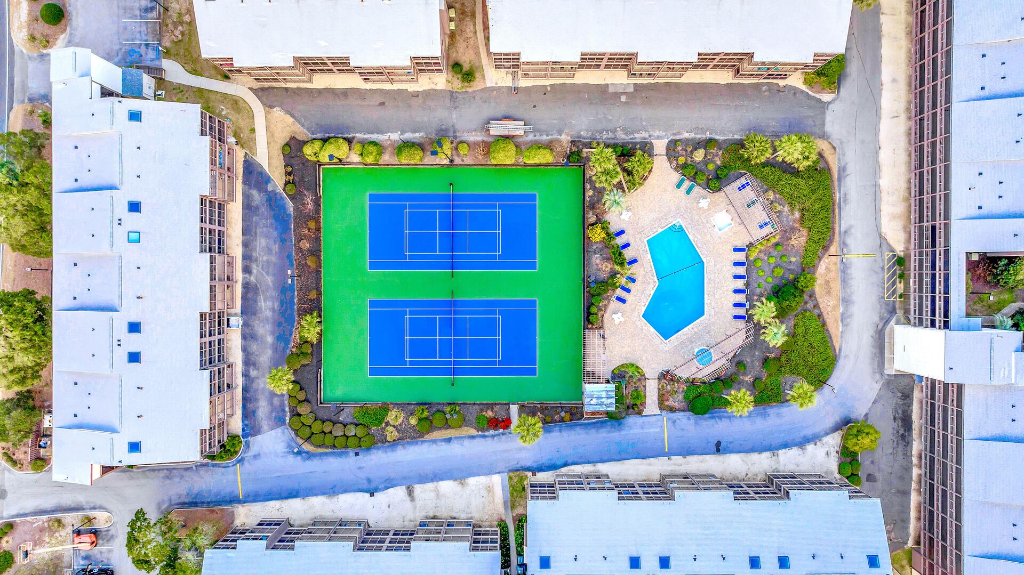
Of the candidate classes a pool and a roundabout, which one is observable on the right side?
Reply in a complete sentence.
The feature located on the right side is a pool.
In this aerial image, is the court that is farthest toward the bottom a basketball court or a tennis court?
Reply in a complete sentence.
The court that is farthest toward the bottom appears to be a tennis court.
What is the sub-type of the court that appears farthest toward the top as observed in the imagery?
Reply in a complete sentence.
The court that appears farthest toward the top in the image is a tennis court.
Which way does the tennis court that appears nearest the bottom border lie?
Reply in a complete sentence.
From this overhead view, the tennis court that appears nearest the bottom border appears to run horizontally.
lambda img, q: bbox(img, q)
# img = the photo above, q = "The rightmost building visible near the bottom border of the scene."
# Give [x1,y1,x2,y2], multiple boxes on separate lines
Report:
[924,378,1024,575]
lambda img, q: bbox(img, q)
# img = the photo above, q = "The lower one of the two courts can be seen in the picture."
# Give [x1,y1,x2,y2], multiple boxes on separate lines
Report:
[322,285,583,402]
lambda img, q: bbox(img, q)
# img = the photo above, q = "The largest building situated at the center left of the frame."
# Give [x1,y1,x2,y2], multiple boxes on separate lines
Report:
[49,44,236,487]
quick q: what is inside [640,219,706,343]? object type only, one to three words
swimming pool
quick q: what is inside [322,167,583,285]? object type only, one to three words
tennis court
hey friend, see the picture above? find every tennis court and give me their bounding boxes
[322,167,583,285]
[322,285,583,402]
